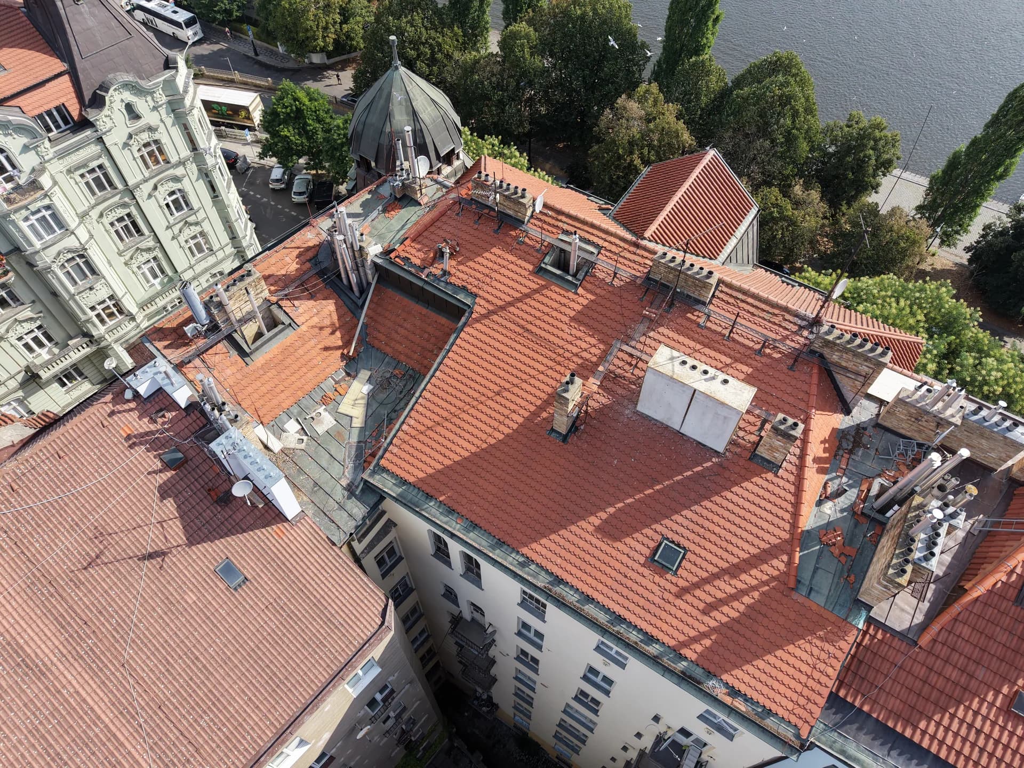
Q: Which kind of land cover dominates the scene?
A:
buildings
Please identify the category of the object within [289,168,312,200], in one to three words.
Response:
car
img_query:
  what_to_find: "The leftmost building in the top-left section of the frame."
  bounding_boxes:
[0,0,264,414]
